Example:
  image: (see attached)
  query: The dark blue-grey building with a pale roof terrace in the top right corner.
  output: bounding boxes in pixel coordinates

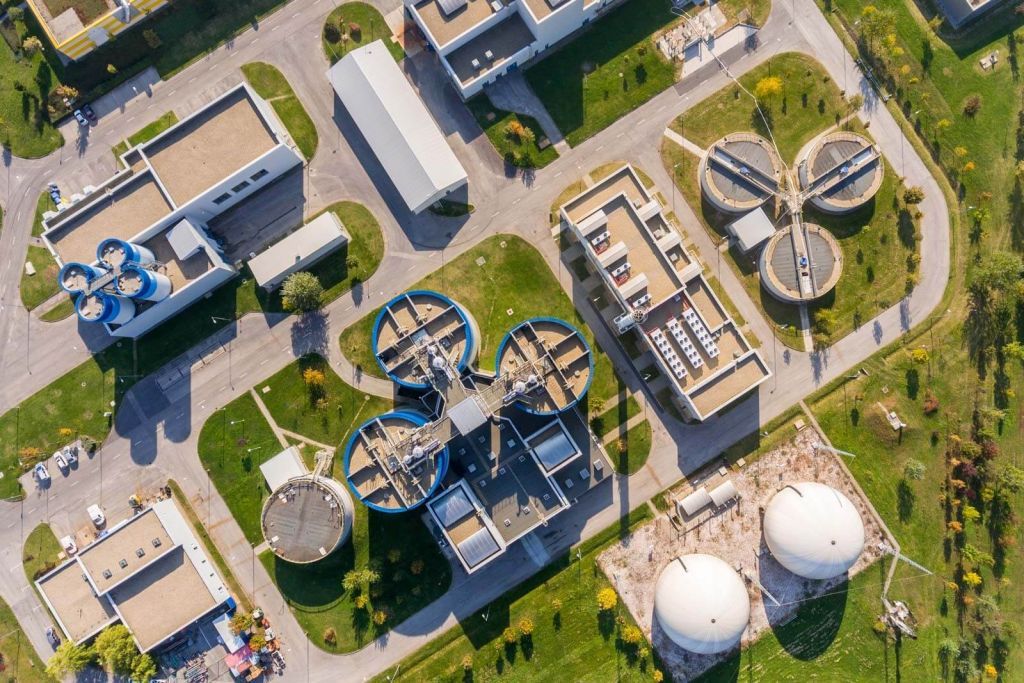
[933,0,997,29]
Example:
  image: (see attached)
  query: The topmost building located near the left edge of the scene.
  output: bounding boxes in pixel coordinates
[30,0,182,64]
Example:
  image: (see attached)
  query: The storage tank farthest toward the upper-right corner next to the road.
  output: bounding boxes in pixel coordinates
[796,131,886,217]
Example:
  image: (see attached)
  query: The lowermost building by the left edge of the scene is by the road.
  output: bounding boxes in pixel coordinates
[36,498,239,651]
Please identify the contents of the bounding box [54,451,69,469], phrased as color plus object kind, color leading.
white car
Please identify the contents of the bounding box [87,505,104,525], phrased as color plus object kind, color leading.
white vehicle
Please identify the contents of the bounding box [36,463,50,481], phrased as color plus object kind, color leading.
white car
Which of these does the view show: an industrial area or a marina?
industrial area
